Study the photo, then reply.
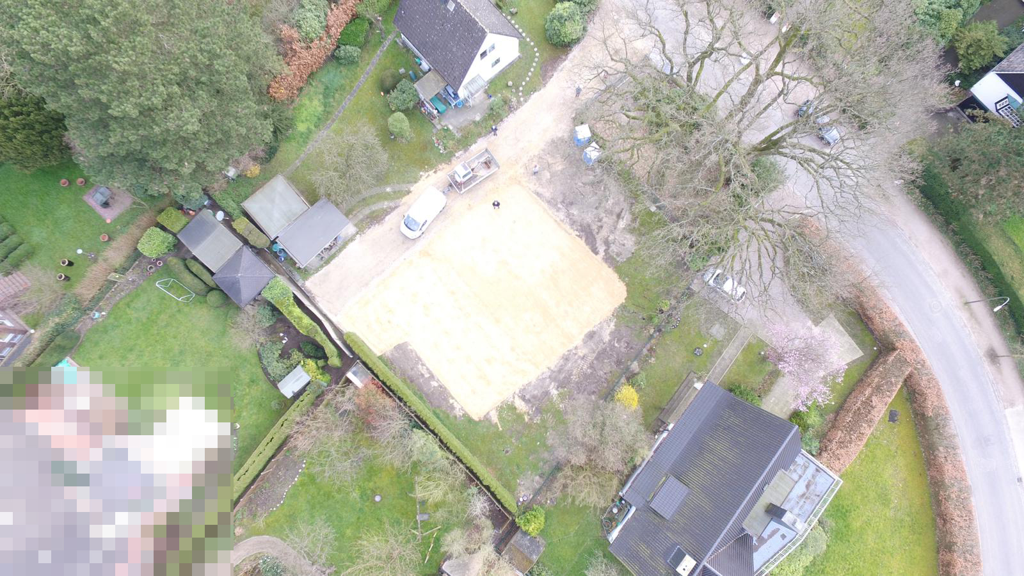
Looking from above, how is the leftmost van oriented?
diagonally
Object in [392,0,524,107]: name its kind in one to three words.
house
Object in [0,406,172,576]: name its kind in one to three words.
house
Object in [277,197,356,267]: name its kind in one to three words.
shed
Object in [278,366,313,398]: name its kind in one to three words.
shed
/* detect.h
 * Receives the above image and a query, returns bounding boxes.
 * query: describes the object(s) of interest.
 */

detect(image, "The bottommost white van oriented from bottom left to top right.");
[396,181,454,244]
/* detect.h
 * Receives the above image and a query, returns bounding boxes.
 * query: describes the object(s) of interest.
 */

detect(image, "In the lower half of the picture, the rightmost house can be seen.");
[602,382,844,576]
